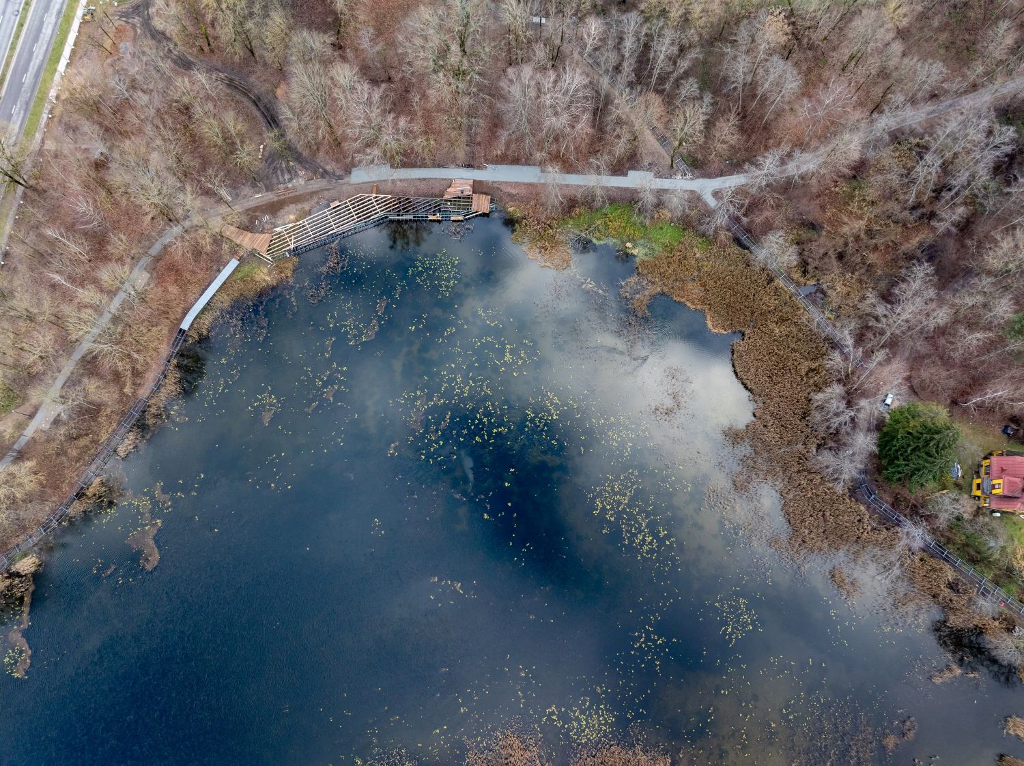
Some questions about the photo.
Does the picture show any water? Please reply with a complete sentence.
Yes, there's water in this view.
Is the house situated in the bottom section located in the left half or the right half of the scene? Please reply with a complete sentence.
The house situated in the bottom section sits on the right side.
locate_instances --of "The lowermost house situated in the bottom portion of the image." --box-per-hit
[970,453,1024,509]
